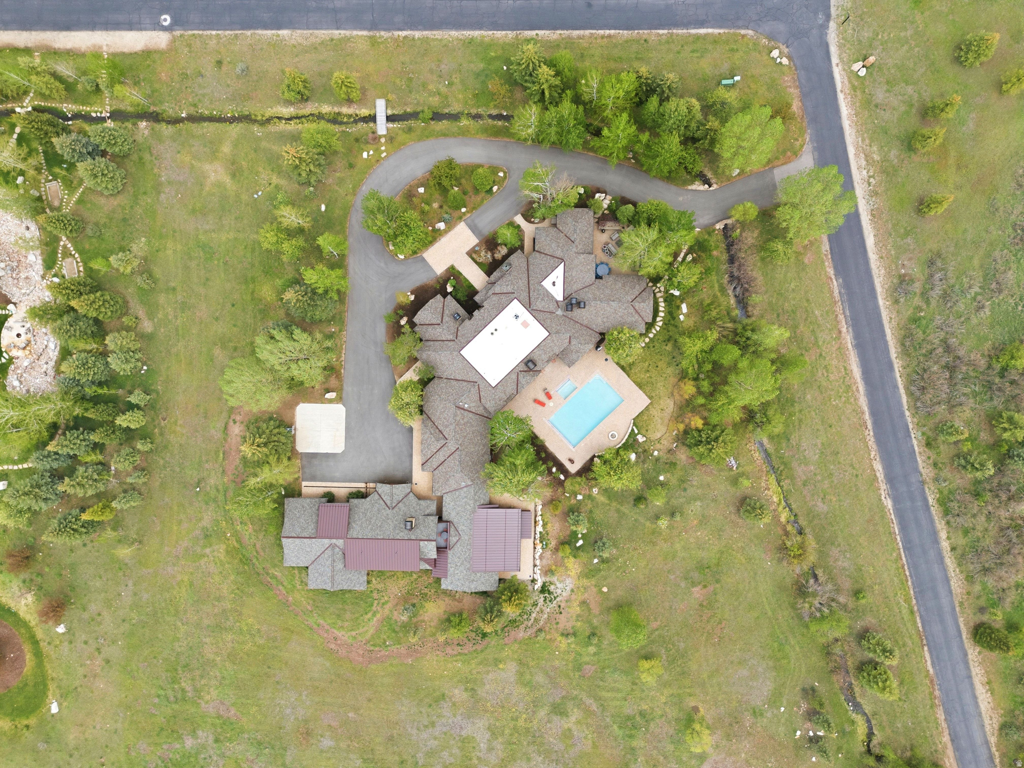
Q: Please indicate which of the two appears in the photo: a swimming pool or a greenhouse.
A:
swimming pool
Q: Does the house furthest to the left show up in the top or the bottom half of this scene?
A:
bottom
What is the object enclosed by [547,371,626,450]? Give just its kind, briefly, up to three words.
swimming pool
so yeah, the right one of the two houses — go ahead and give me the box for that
[412,208,653,592]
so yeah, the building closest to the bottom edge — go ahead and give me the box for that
[281,482,448,591]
